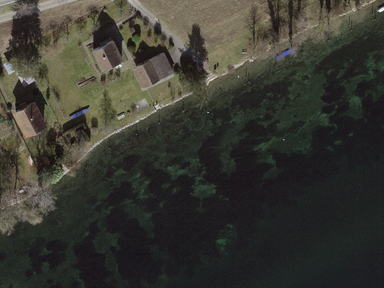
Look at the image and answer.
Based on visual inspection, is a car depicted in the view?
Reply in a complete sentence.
No, the frame has no car in it.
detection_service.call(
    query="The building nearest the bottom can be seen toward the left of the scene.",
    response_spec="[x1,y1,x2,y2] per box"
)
[65,126,91,146]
